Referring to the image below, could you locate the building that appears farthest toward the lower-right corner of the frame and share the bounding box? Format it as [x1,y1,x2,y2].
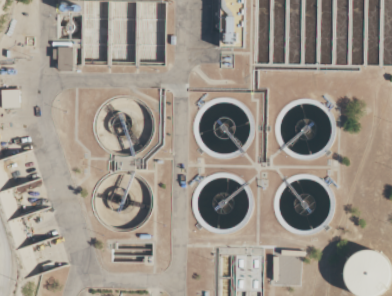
[269,250,306,284]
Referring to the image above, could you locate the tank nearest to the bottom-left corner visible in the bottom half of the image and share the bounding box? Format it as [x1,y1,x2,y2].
[92,170,152,230]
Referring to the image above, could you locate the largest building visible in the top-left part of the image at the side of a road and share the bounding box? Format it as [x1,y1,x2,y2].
[52,41,81,71]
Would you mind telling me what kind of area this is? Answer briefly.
industrial area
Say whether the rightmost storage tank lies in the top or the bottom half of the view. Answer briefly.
bottom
